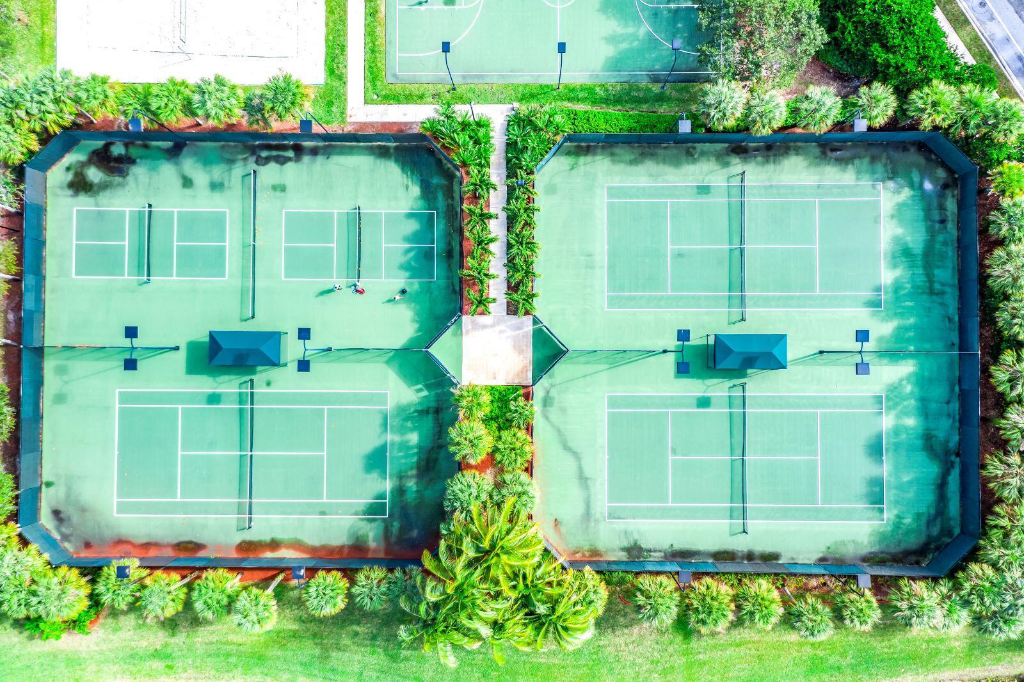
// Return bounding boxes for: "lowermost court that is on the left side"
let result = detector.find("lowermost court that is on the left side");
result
[114,389,389,517]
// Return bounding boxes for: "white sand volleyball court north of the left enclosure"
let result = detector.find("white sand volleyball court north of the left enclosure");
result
[56,0,325,84]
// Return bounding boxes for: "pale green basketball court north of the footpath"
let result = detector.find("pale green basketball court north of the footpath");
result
[397,0,723,74]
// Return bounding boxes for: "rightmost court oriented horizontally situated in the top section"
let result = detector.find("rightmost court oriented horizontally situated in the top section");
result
[606,182,883,310]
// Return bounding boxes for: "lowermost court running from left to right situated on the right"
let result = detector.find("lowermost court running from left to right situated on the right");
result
[606,394,886,522]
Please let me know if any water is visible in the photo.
No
